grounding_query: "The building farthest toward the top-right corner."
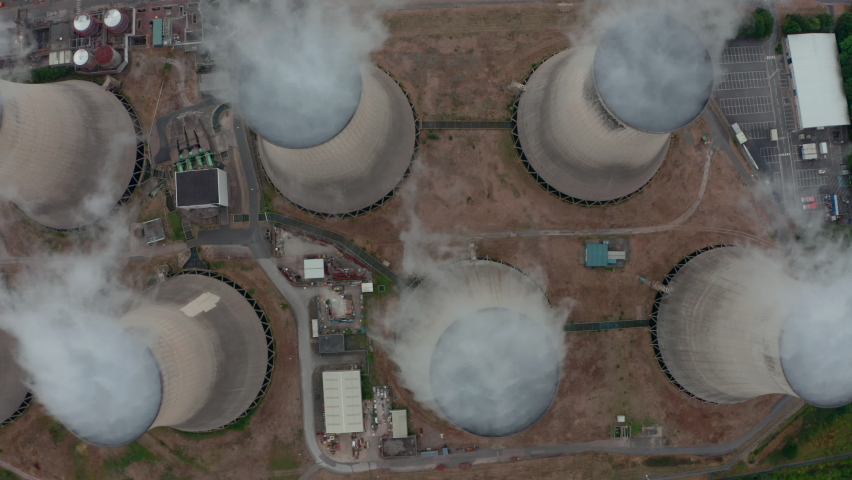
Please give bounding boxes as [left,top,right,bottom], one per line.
[781,32,850,134]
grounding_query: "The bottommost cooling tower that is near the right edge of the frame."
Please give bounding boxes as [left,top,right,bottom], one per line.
[637,241,852,413]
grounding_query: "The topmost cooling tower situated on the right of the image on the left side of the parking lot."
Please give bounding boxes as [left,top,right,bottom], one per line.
[505,7,717,205]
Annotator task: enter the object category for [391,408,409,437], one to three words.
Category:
shed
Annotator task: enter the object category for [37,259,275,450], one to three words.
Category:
cooling tower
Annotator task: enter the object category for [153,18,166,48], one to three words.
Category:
building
